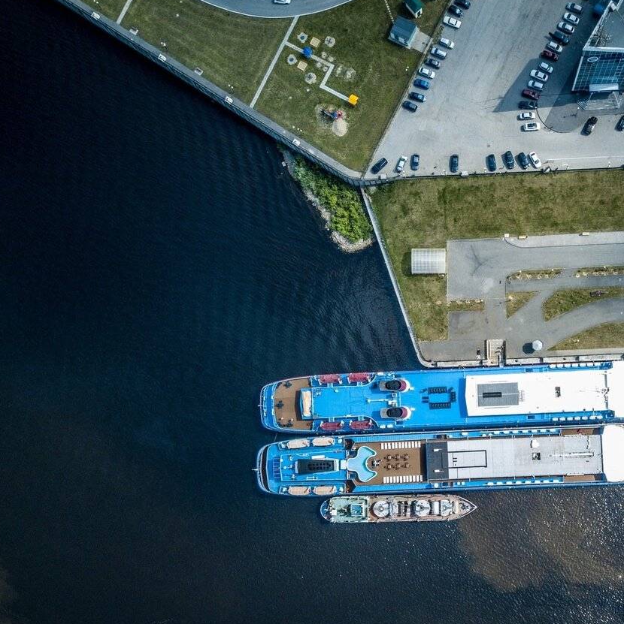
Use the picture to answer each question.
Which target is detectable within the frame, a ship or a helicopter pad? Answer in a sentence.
Of the two, only a ship appears.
